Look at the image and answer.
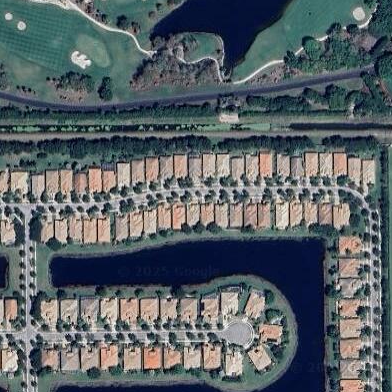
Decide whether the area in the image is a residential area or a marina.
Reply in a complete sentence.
The area seen from above is a residential area.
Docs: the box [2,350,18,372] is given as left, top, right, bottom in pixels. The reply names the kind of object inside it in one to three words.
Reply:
house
